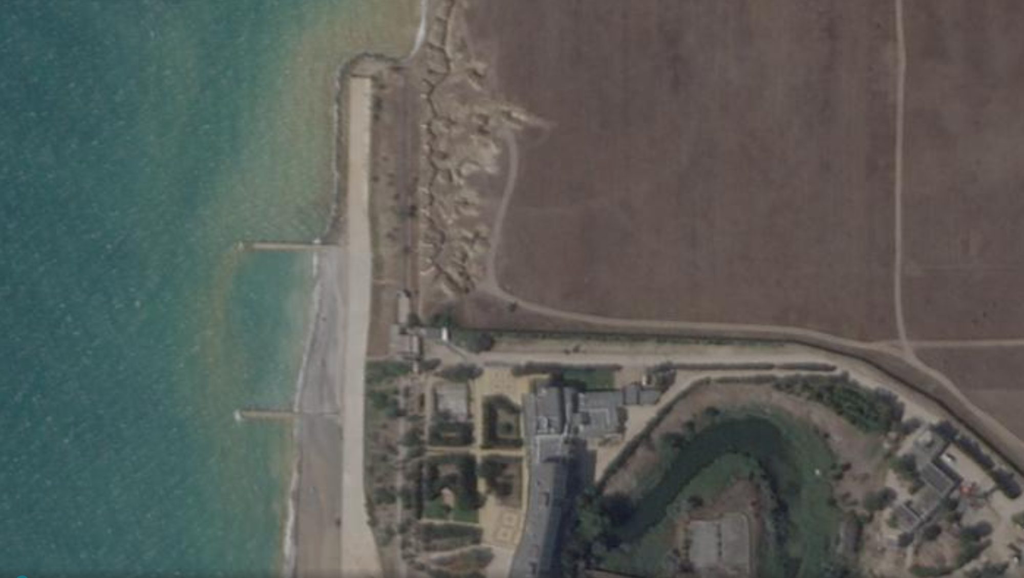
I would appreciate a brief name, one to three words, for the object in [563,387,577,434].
building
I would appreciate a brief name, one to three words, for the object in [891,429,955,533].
house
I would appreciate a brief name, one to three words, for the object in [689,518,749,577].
tennis court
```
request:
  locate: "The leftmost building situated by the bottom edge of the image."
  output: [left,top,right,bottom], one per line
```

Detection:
[511,457,568,578]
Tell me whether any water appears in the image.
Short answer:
Yes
